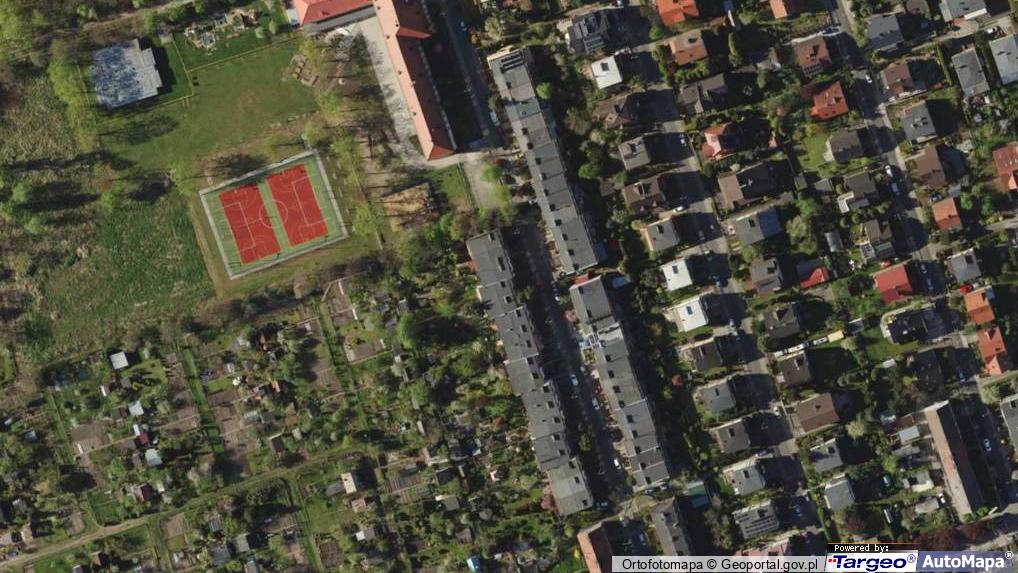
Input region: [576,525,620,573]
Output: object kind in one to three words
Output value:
building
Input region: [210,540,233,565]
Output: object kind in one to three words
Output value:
shed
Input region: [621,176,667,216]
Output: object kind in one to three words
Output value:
house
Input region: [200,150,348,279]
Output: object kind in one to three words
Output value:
sports court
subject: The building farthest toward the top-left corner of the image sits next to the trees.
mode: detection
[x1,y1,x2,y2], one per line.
[92,39,162,109]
